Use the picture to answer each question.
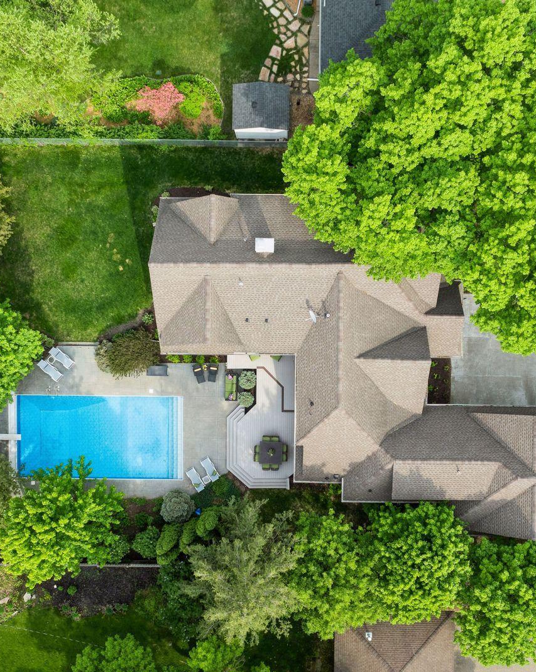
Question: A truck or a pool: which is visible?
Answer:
pool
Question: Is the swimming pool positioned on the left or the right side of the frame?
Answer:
left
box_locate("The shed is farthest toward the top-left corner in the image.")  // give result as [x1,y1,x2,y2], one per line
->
[232,82,290,139]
